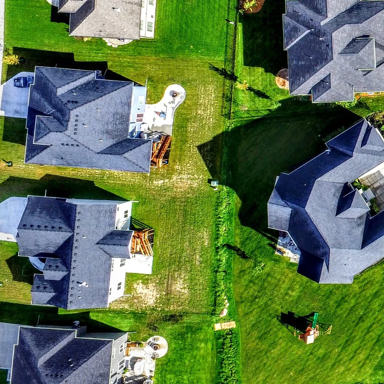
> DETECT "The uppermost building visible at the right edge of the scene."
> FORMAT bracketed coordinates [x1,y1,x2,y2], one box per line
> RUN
[282,0,384,103]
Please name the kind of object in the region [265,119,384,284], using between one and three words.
house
